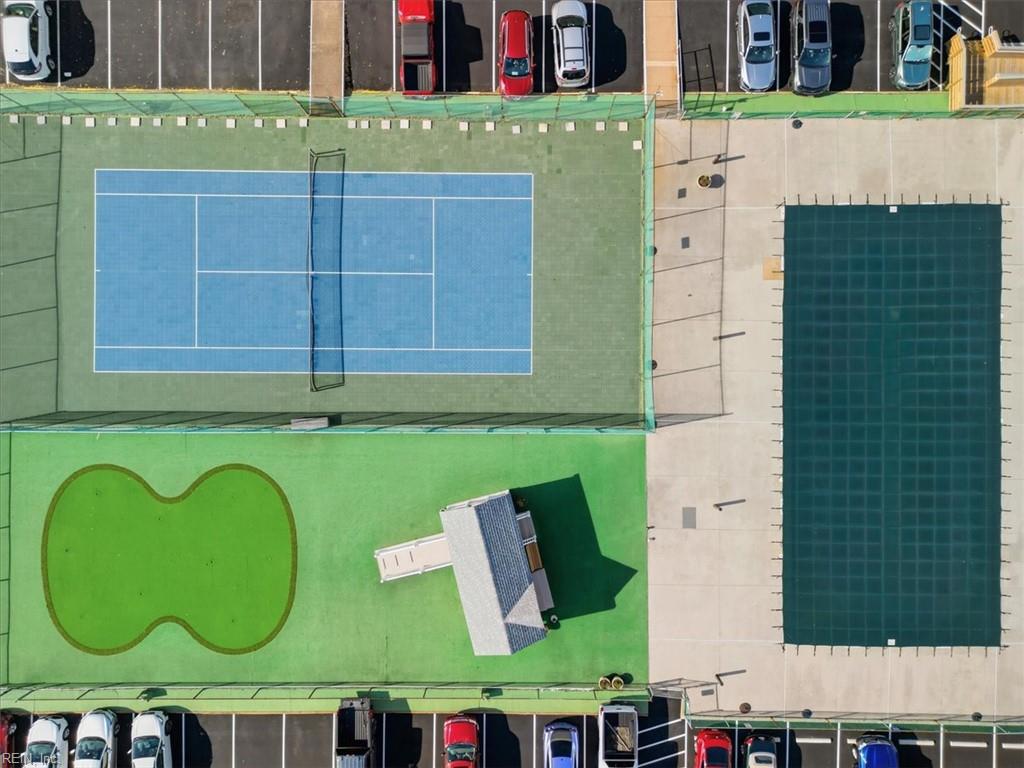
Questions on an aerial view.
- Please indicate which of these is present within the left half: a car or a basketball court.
car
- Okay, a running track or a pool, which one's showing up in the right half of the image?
pool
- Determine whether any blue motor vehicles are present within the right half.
Yes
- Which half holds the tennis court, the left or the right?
left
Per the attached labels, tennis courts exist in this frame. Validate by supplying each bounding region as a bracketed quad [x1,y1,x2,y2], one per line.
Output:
[0,113,647,430]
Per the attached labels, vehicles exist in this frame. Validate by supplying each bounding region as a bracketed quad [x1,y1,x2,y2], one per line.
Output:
[597,700,637,768]
[496,8,536,99]
[337,699,376,768]
[71,707,119,768]
[852,733,894,768]
[3,0,54,84]
[737,732,776,768]
[22,712,71,768]
[786,0,833,98]
[441,712,481,768]
[550,0,593,89]
[126,707,173,768]
[0,710,17,768]
[396,0,438,101]
[543,721,578,768]
[736,0,780,94]
[693,726,731,768]
[886,0,934,93]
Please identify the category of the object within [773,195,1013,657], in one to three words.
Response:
swimming pool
